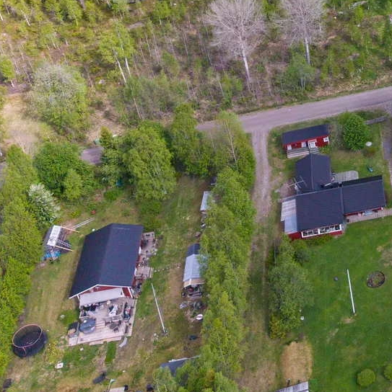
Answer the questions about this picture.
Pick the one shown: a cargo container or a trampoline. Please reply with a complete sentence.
This aerial view contains a trampoline.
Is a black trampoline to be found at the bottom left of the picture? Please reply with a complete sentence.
Yes, there is a black trampoline at the bottom left of the picture.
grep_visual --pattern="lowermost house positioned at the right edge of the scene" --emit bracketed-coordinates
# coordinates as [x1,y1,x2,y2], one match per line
[278,154,386,244]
